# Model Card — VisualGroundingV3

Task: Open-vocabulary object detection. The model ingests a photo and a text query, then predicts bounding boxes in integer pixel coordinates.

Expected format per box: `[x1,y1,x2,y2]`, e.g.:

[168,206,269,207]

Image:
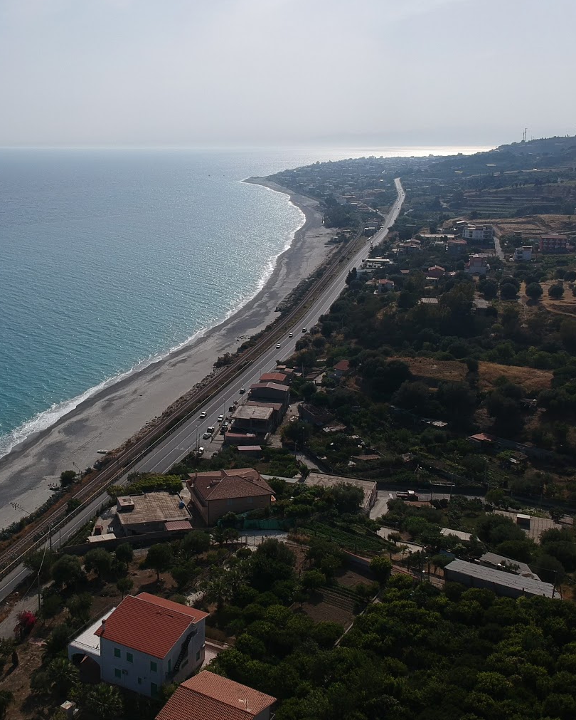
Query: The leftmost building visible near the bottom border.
[72,595,202,701]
